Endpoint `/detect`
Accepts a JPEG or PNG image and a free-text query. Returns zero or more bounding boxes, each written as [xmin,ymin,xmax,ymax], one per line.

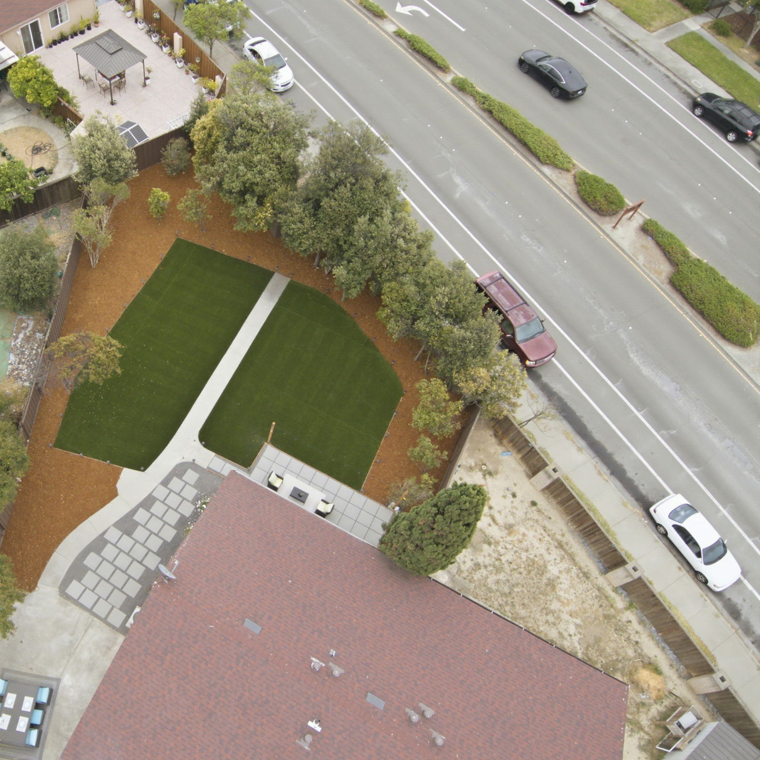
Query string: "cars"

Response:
[516,47,590,103]
[558,0,602,19]
[651,499,746,599]
[692,89,760,147]
[471,261,563,367]
[231,28,294,90]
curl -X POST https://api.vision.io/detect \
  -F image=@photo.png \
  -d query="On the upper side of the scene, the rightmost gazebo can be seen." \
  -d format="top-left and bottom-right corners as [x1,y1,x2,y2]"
[73,30,147,104]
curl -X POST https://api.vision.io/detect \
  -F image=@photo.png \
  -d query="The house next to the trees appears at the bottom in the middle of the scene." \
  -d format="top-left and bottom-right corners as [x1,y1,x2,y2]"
[61,468,629,760]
